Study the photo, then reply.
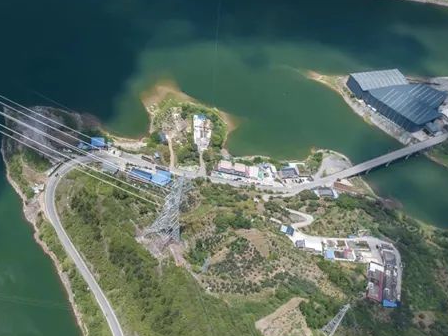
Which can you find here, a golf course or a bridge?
bridge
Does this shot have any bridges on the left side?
No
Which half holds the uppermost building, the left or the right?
right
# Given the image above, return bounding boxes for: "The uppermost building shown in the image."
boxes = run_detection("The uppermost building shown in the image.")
[344,69,407,101]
